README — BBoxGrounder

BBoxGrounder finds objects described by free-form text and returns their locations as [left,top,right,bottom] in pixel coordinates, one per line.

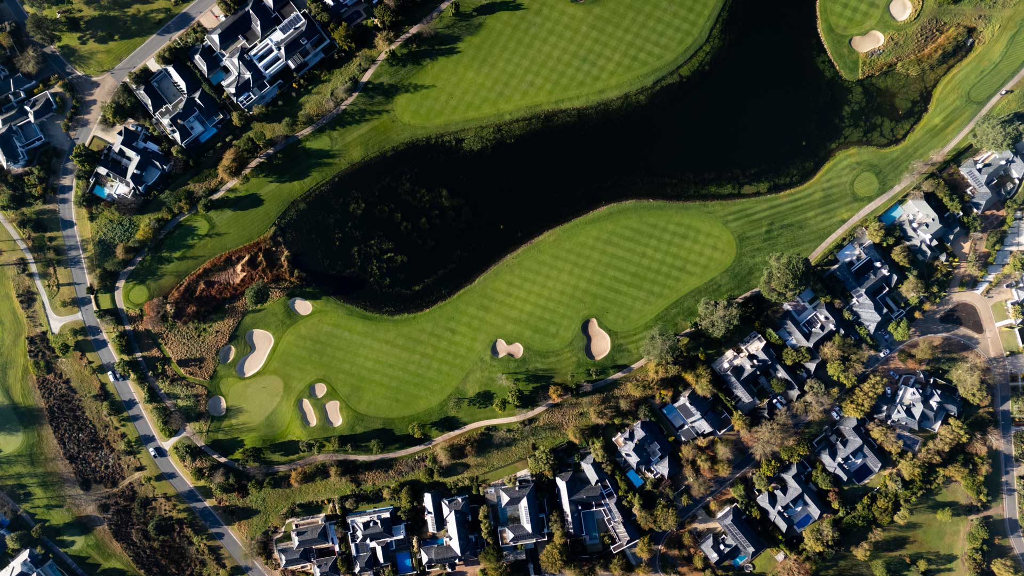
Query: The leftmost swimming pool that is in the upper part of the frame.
[91,184,109,200]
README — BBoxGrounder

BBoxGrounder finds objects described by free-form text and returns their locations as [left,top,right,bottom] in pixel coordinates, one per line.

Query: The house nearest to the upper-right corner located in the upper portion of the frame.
[948,146,1024,218]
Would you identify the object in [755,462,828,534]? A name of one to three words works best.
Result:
house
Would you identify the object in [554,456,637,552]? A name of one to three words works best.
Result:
house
